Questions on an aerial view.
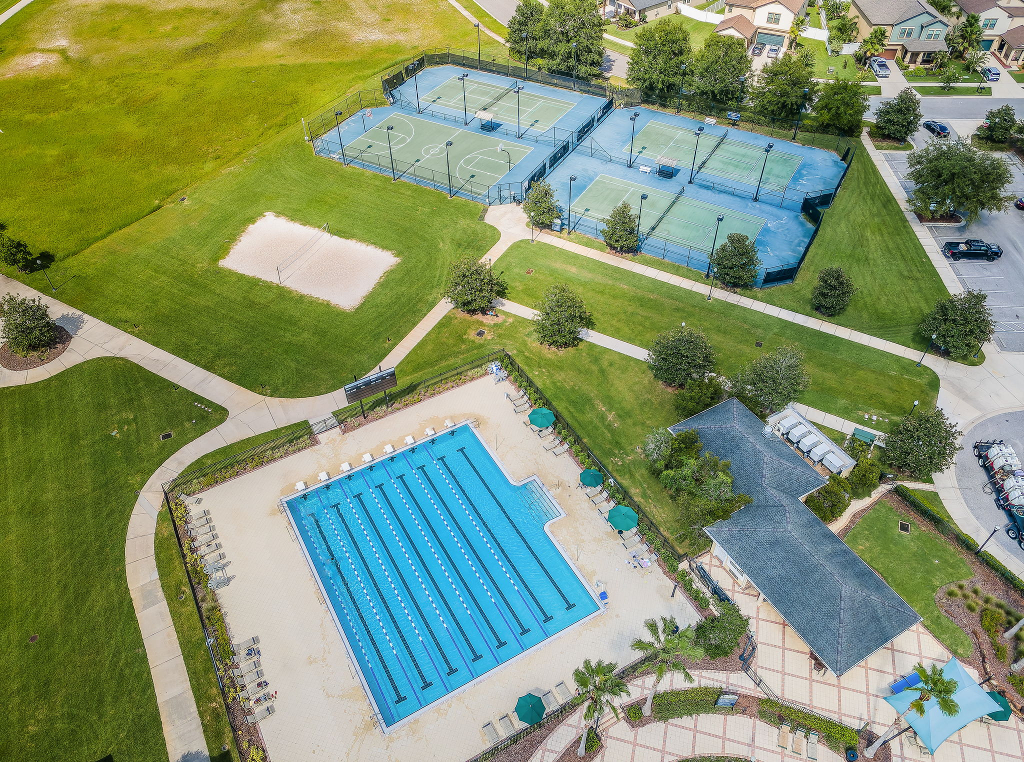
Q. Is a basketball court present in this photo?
Yes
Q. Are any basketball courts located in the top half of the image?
Yes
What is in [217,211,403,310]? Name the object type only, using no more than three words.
sports court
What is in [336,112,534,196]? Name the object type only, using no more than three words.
basketball court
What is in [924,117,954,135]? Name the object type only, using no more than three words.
car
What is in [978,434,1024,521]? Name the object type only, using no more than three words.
trailer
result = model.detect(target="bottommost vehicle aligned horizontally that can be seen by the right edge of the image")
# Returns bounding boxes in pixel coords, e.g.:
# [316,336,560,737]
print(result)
[945,238,1008,260]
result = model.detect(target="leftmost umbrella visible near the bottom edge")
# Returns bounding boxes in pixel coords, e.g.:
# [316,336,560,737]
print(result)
[513,691,548,727]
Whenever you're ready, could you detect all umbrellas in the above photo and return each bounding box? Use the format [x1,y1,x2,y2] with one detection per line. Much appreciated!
[578,467,605,490]
[528,409,555,429]
[979,687,1018,726]
[606,506,640,534]
[513,691,548,727]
